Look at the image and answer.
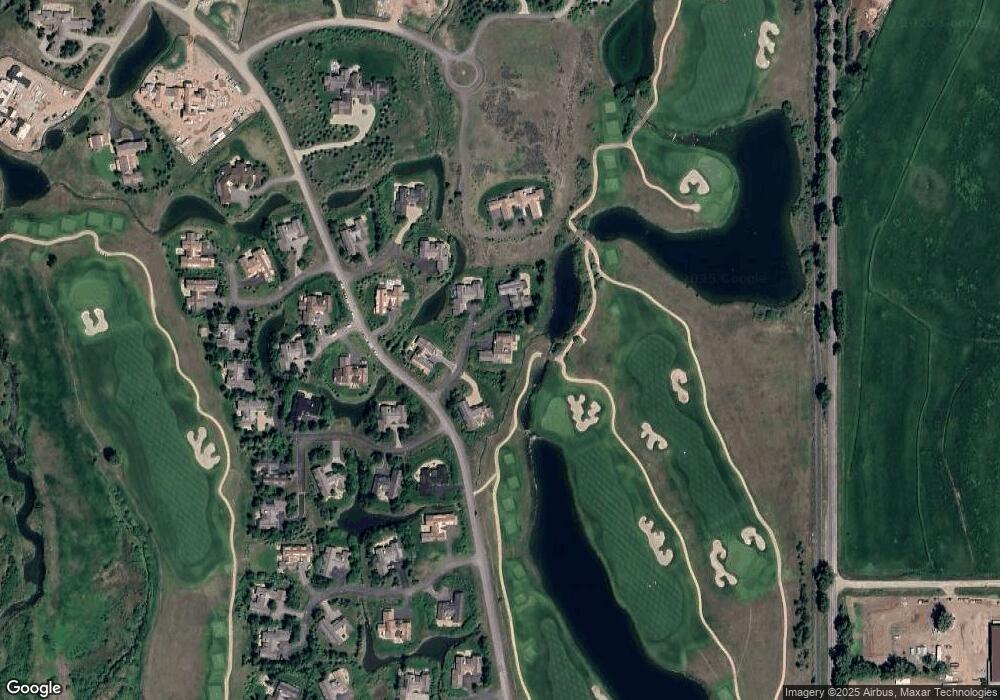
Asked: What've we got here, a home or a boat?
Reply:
home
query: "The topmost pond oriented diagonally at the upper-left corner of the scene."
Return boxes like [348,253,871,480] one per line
[108,8,172,99]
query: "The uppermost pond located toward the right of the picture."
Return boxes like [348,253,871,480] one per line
[603,0,656,86]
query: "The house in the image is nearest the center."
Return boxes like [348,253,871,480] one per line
[479,332,521,365]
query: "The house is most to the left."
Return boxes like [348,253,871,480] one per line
[0,63,32,139]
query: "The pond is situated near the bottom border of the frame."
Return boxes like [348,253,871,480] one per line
[363,612,477,700]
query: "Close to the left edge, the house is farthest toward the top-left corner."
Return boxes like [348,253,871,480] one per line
[27,1,92,37]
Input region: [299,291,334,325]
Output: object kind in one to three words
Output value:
house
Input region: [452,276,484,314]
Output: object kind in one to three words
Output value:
house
